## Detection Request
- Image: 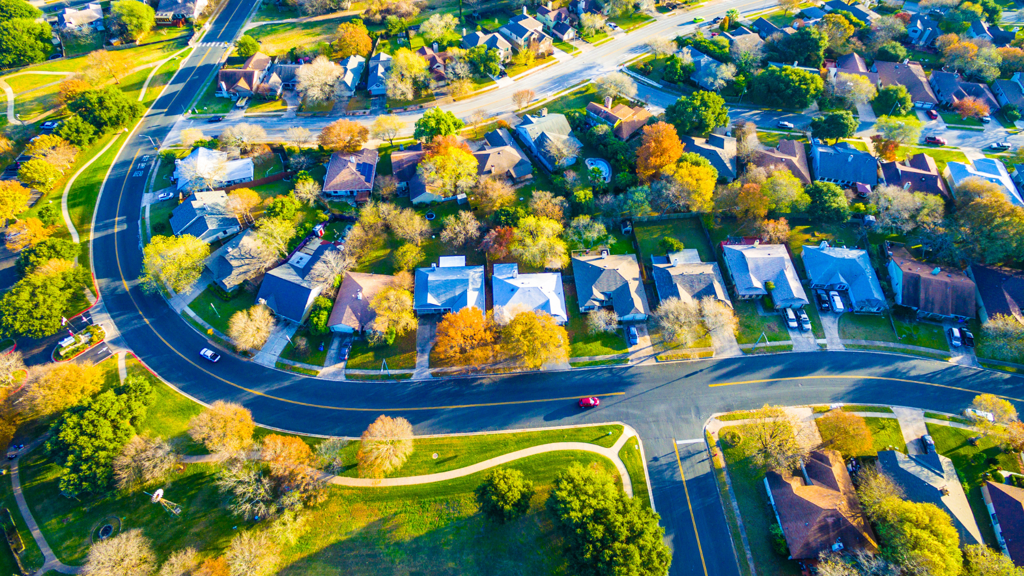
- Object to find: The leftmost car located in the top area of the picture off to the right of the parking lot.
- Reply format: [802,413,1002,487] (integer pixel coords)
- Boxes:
[156,190,177,202]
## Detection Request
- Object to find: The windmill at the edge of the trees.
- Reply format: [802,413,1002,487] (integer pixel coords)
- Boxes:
[149,484,186,520]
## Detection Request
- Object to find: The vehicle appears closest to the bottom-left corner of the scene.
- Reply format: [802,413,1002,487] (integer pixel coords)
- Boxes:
[198,347,223,363]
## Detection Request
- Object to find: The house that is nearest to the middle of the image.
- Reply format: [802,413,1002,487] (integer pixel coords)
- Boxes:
[492,263,568,328]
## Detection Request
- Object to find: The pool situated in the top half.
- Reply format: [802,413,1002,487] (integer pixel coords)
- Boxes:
[586,157,612,183]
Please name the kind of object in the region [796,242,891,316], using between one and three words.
house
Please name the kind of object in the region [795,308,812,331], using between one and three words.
vehicle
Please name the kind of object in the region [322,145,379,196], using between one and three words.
house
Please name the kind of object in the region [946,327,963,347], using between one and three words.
car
